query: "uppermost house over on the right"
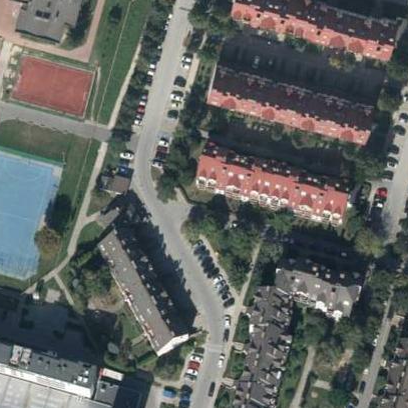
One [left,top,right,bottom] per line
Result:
[232,0,397,64]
